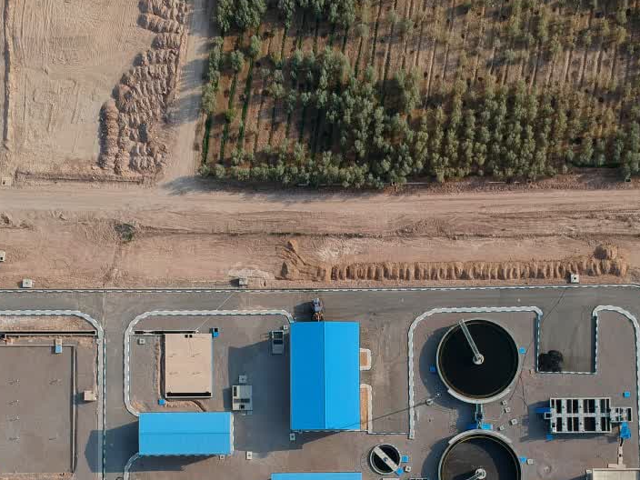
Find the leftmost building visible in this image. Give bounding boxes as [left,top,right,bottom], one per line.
[138,412,234,455]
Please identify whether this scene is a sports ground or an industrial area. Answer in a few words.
industrial area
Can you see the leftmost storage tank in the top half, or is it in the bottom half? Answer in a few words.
bottom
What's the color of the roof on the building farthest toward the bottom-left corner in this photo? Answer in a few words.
blue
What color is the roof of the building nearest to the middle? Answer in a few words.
blue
